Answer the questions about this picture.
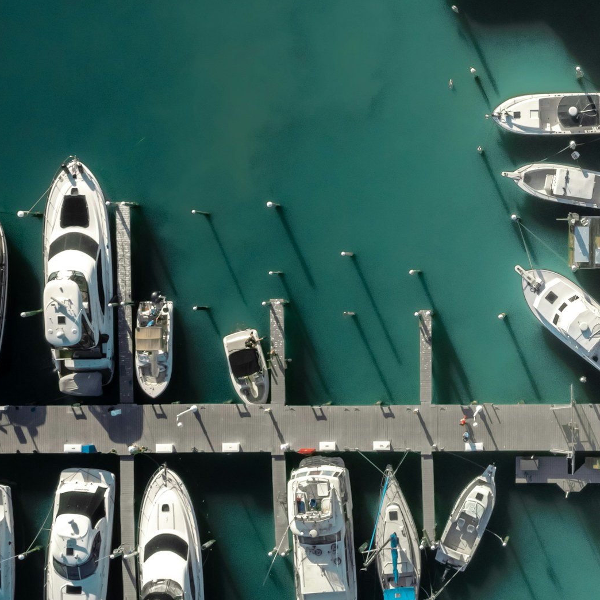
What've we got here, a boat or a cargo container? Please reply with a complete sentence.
The image shows a boat.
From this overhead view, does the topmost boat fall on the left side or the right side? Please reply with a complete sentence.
It is on the right.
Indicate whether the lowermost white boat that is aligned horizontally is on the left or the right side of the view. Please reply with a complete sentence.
The lowermost white boat that is aligned horizontally appears in the right half of the scene.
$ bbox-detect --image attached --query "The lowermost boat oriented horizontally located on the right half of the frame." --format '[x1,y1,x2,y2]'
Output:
[502,164,600,213]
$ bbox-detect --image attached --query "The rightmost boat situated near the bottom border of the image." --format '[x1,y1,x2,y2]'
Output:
[435,462,494,577]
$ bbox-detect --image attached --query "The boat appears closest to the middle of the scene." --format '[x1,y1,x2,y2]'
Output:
[220,328,270,405]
